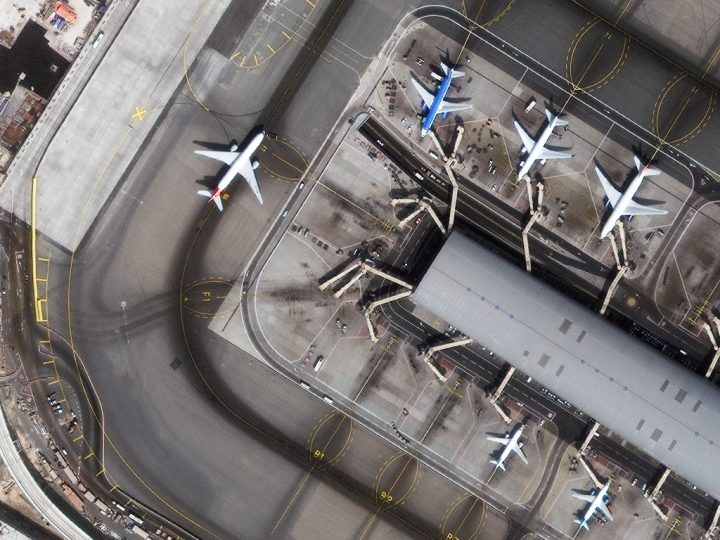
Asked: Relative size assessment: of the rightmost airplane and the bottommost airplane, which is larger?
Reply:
the rightmost airplane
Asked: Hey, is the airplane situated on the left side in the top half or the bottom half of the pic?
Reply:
top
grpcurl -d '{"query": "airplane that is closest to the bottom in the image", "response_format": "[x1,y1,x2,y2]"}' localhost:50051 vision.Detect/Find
[572,482,613,533]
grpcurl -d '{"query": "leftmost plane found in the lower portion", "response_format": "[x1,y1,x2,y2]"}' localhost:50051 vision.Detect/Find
[487,426,528,472]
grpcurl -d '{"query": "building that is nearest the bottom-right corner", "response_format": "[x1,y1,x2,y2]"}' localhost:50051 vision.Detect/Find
[411,229,720,499]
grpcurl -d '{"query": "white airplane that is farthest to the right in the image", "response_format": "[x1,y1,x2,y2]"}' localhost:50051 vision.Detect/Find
[597,155,671,238]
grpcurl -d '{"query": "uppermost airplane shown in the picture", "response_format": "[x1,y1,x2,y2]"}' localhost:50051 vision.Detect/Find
[413,61,476,136]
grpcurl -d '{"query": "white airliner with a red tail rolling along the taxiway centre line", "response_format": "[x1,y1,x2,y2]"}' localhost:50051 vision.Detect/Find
[194,132,265,214]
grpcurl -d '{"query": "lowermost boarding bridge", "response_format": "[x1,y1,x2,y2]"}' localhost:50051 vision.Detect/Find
[648,498,669,523]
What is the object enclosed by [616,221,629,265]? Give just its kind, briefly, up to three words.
jet bridge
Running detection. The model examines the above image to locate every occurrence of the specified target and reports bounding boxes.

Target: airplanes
[513,110,576,181]
[597,155,671,238]
[413,61,476,136]
[487,426,528,472]
[194,132,265,214]
[572,482,613,533]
